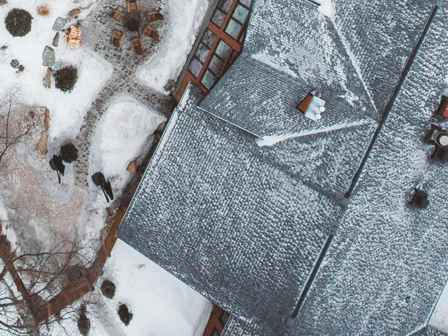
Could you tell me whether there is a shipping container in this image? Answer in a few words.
No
